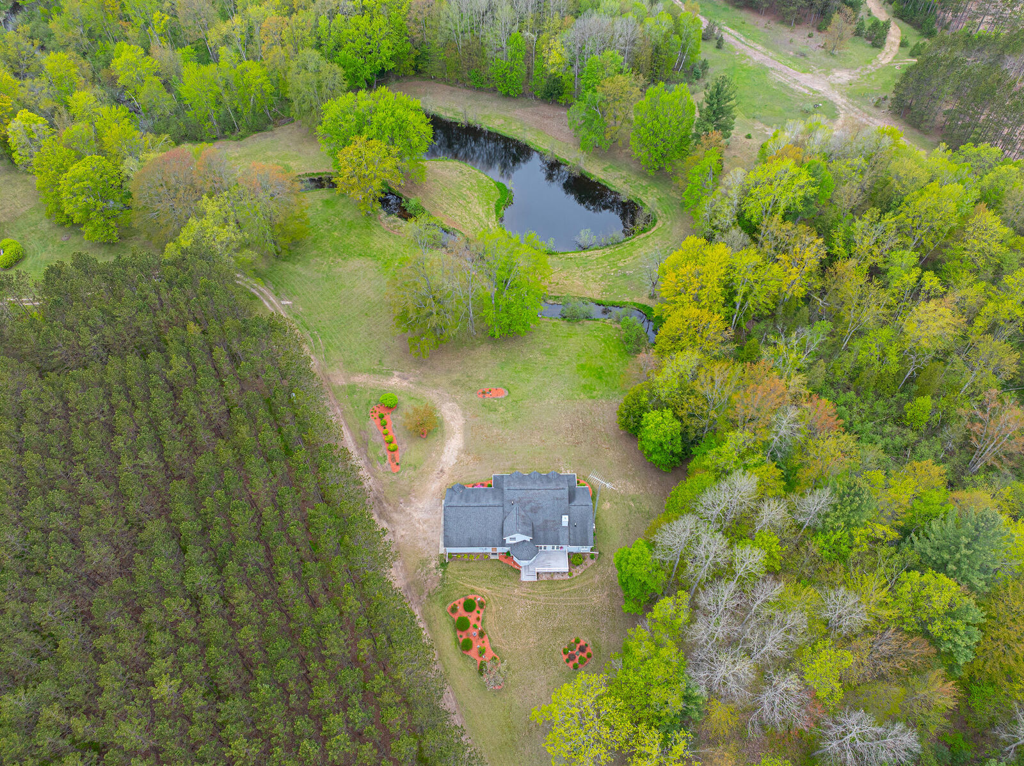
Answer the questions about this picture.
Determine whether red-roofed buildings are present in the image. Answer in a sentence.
No, this view has no red-roofed building in it.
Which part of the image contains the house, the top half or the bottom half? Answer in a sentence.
Seen from above, the house lies in the bottom half of the view.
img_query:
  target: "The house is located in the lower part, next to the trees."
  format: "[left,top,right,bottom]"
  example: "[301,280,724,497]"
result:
[443,469,598,581]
